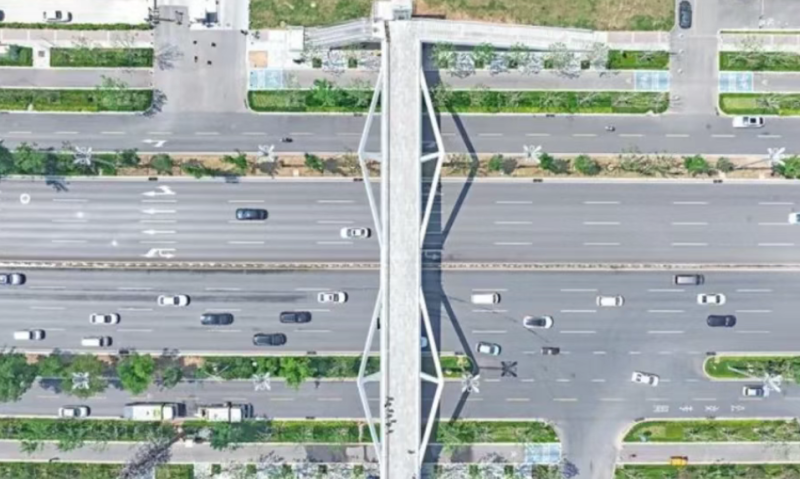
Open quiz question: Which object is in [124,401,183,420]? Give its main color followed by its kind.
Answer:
white vehicle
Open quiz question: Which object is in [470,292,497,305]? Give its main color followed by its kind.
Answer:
white vehicle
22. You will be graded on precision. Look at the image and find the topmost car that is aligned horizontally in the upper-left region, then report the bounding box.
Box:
[41,9,70,23]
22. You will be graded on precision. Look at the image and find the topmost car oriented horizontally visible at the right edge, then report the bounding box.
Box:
[731,116,762,128]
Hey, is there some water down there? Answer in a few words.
No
